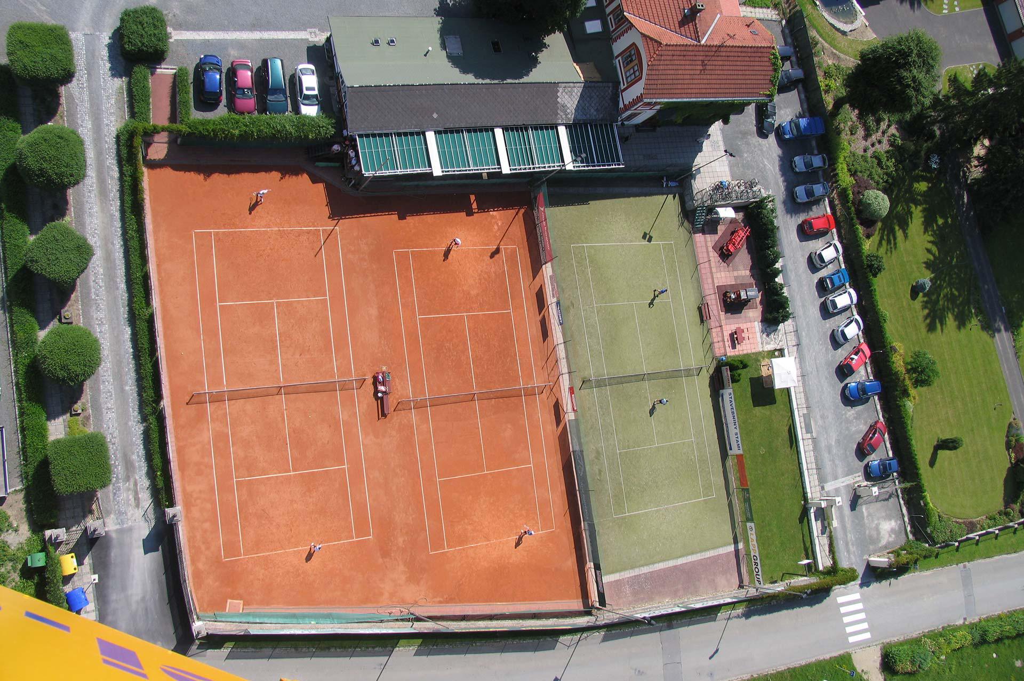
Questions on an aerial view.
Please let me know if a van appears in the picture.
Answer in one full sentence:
Yes, there's a van down there.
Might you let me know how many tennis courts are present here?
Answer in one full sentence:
In total, there are 3 tennis courts in the scene.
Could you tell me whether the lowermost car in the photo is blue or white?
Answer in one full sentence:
The lowermost car is blue.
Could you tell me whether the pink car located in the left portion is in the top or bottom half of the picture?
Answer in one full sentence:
The top half of the photo is where the pink car located in the left portion is.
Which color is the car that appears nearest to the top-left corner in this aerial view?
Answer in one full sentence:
In this view, the car that appears nearest to the top-left corner is blue.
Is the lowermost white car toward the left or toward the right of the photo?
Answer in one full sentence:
The lowermost white car is on the right side of the image.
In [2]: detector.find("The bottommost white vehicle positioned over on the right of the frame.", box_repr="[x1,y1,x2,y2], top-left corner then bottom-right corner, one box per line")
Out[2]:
[830,314,866,344]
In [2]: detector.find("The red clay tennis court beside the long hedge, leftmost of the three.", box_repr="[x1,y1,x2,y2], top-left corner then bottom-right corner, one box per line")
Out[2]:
[146,170,401,612]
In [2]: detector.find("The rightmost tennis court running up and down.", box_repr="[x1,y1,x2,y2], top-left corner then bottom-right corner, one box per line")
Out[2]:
[541,193,736,581]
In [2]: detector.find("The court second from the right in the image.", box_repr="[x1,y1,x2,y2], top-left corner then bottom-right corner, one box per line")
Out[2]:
[356,193,587,604]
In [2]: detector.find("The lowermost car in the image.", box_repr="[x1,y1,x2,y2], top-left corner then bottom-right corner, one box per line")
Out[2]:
[866,455,902,479]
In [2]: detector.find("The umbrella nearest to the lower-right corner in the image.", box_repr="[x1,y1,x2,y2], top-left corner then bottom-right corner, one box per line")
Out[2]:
[767,357,797,388]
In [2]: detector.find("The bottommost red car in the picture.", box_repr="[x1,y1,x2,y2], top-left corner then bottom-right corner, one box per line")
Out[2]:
[857,422,891,457]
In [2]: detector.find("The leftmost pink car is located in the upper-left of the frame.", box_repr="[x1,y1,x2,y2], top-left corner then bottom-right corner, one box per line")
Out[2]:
[228,56,260,116]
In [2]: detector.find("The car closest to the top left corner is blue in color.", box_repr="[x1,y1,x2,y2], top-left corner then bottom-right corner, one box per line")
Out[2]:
[195,52,226,107]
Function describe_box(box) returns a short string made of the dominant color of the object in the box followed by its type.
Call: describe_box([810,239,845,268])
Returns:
white car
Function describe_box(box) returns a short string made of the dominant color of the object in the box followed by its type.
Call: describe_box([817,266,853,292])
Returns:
blue car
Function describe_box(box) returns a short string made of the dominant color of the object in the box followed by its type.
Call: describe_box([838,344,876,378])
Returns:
red car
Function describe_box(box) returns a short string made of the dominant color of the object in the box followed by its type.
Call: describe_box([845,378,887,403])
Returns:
blue car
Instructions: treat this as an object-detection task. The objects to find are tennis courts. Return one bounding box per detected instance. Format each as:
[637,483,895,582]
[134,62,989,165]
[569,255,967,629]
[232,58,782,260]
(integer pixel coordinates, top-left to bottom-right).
[356,193,587,604]
[541,193,736,581]
[146,170,401,612]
